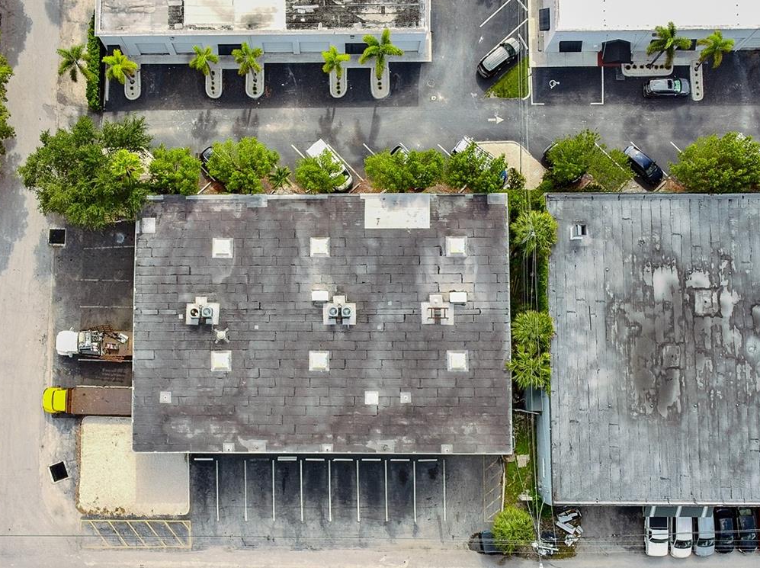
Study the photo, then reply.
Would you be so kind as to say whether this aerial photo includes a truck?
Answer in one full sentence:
Yes, the picture does show a truck.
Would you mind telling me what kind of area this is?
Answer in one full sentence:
The picture captures an industrial area.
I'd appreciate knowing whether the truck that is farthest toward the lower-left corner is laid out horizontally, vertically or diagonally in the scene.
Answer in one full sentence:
From this overhead view, the truck that is farthest toward the lower-left corner appears to run horizontally.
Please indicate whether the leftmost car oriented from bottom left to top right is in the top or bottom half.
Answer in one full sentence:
The leftmost car oriented from bottom left to top right is in the top half of the image.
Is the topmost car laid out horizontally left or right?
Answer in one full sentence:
The topmost car laid out horizontally appears in the right half of the scene.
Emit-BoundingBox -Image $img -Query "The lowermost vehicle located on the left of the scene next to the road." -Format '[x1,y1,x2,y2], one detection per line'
[43,383,132,418]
